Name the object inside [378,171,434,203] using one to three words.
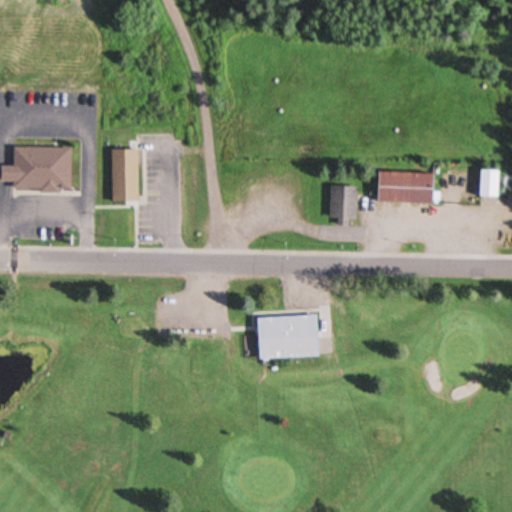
building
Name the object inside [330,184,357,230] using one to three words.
house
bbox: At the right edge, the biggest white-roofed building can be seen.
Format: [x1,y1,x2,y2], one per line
[480,168,501,198]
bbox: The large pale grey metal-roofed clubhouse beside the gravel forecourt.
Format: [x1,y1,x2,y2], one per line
[246,314,320,365]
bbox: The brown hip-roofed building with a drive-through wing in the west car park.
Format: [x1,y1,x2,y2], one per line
[0,146,72,190]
